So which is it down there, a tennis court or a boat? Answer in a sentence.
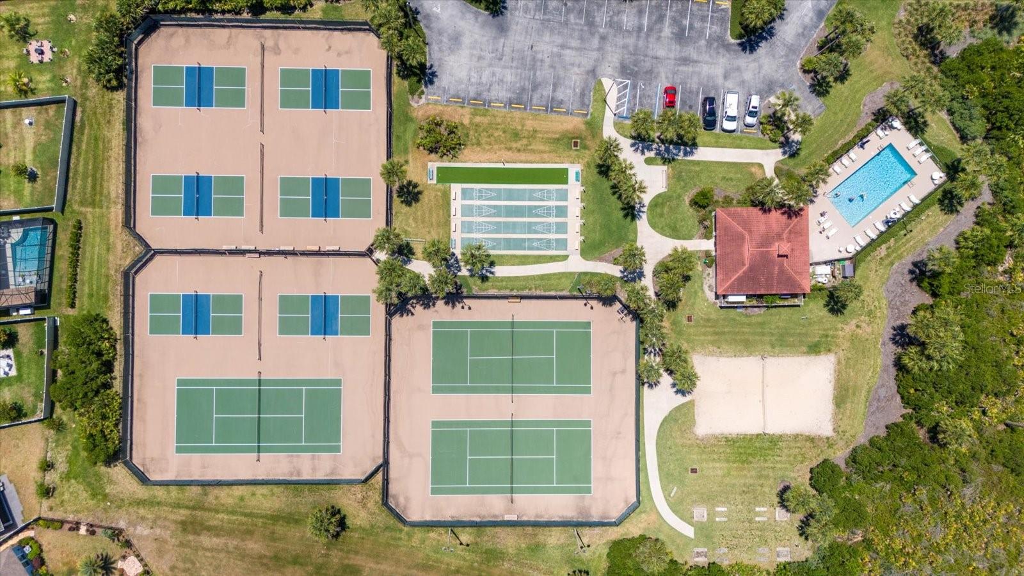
It is a tennis court that can be seen here.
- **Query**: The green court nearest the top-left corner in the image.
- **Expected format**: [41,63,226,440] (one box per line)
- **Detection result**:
[152,62,246,113]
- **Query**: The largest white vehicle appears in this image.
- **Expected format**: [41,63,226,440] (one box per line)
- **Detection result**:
[721,91,739,134]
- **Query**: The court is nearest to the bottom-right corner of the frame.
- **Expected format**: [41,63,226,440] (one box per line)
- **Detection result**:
[693,354,835,438]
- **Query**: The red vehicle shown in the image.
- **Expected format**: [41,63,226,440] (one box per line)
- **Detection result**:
[662,85,677,112]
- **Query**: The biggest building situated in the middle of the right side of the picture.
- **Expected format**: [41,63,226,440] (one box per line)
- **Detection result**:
[711,206,810,305]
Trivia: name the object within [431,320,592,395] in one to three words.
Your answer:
tennis court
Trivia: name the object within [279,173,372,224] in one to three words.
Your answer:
sports court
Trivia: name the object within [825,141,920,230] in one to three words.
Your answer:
swimming pool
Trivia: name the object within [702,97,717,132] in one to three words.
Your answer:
car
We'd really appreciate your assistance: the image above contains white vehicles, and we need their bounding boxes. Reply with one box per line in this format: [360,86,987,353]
[743,95,760,127]
[721,91,739,134]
